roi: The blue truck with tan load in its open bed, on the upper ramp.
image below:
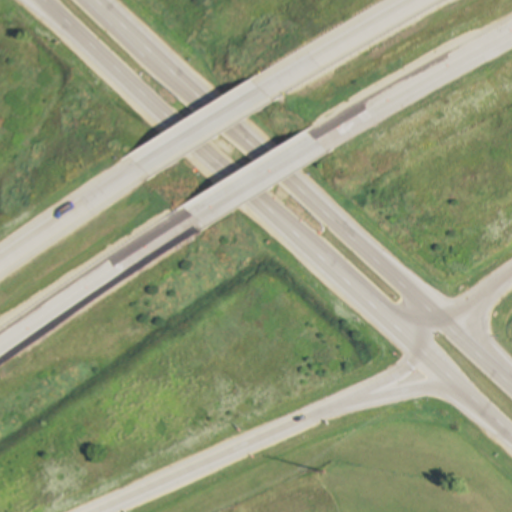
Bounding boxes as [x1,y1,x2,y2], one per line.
[54,201,74,217]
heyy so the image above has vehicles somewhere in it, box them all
[293,414,306,422]
[54,201,74,217]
